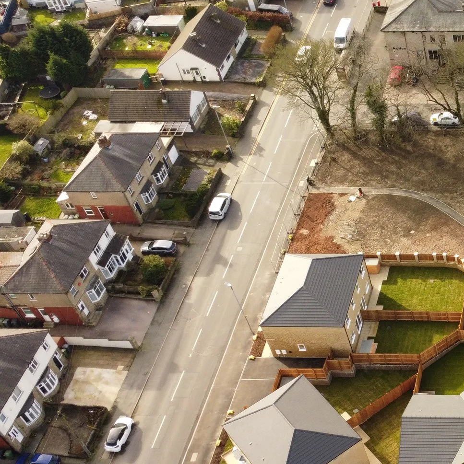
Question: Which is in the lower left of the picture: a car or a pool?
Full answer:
Looking in the lower left of the picture, you will find a car.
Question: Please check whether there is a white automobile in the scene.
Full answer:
Yes, there's a white automobile down there.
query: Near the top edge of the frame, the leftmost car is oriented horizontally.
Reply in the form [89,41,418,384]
[260,1,289,16]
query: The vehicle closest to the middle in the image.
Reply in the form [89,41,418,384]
[209,195,233,220]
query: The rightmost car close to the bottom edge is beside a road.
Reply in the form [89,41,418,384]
[102,416,136,455]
